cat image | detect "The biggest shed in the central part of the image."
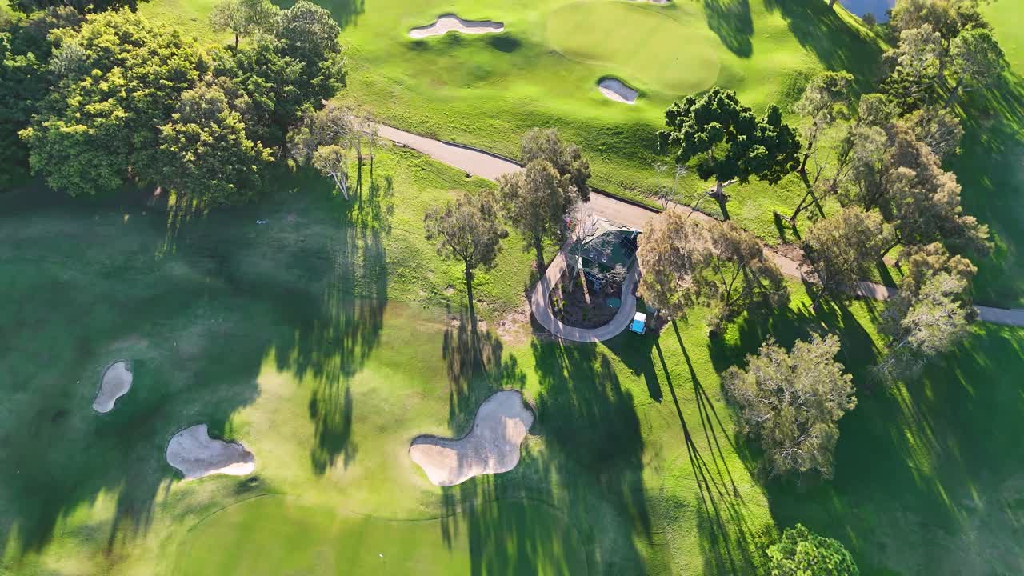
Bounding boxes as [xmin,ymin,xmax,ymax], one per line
[563,216,642,282]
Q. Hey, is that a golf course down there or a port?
golf course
